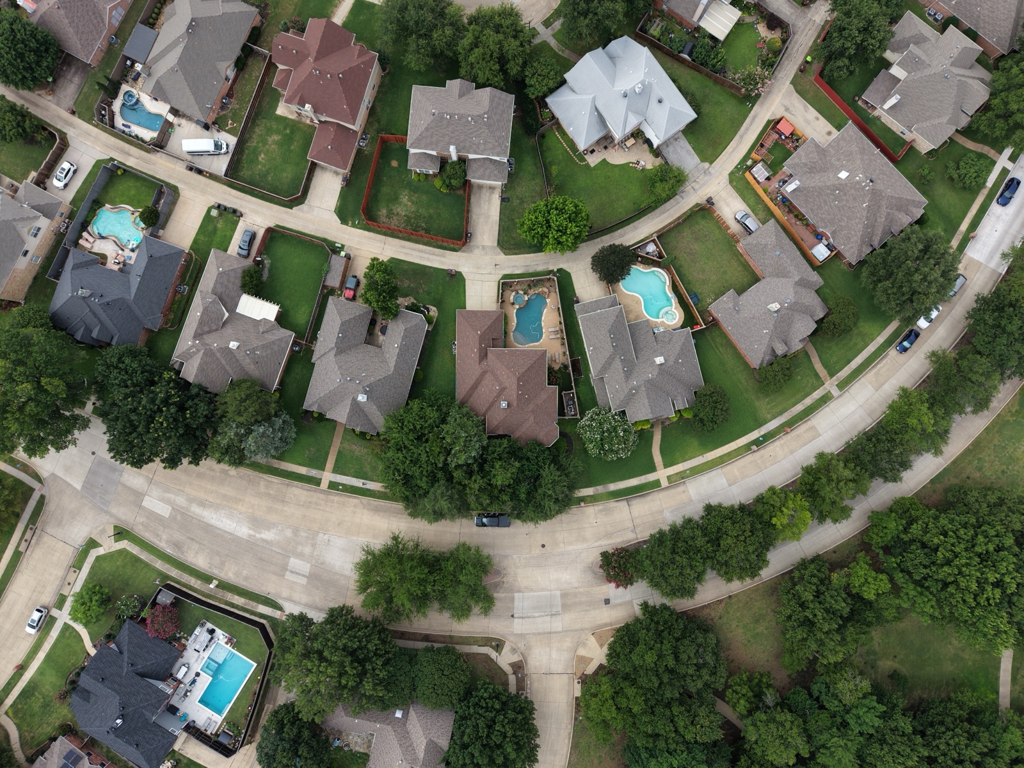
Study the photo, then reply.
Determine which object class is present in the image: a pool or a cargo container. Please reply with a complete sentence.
Visible in the photo is a pool.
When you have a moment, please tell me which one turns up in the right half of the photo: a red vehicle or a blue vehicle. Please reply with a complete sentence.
You can see a blue vehicle in the right half of the photo.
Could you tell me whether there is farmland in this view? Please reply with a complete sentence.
No, the picture contains no farmland.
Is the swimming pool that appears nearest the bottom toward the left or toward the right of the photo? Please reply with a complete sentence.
It is on the left.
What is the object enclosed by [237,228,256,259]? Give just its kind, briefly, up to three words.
car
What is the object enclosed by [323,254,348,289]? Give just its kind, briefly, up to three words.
shed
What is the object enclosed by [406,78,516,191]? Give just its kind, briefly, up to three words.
house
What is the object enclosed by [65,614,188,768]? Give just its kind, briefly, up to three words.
house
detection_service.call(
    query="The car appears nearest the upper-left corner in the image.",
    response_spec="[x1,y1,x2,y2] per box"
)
[55,160,77,189]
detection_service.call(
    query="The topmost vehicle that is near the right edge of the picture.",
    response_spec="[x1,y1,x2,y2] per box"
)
[996,176,1019,207]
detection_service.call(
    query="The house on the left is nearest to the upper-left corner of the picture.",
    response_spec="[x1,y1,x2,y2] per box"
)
[33,0,134,69]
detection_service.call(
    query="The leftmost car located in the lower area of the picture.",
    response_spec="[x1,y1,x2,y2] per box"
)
[26,604,49,634]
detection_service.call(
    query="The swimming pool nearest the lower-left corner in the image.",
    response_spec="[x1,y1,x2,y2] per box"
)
[195,639,259,721]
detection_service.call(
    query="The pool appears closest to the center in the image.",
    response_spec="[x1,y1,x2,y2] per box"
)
[511,291,548,346]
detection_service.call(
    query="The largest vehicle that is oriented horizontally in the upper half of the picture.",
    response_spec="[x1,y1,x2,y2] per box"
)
[179,137,227,155]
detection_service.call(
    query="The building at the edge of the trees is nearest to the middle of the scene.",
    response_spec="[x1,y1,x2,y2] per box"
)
[456,309,559,441]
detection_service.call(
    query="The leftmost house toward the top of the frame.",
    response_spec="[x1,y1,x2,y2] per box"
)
[0,167,80,297]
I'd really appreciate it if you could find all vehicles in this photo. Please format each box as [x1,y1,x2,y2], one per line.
[237,228,256,259]
[344,274,360,301]
[894,328,921,354]
[942,272,969,302]
[55,160,77,189]
[734,208,758,236]
[26,604,49,634]
[916,302,944,329]
[996,176,1019,207]
[474,514,510,529]
[179,137,227,155]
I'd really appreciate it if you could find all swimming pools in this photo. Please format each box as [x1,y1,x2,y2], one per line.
[118,87,167,134]
[511,291,548,346]
[620,265,678,325]
[89,206,145,250]
[195,639,259,721]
